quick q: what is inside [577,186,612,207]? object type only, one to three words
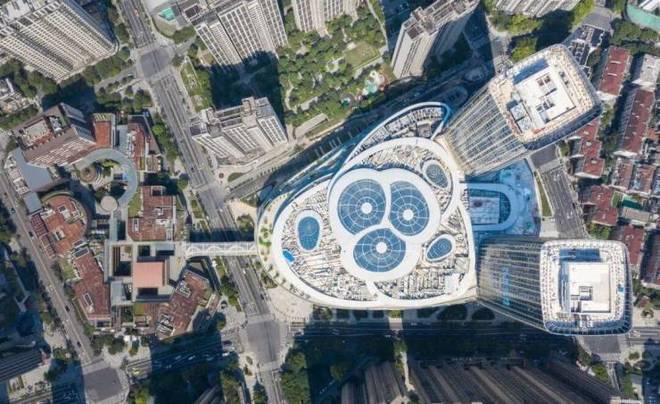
house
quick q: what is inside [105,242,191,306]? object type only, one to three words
building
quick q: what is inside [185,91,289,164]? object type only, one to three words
building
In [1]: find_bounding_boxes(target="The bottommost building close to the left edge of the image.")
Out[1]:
[0,342,46,389]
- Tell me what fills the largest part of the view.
buildings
